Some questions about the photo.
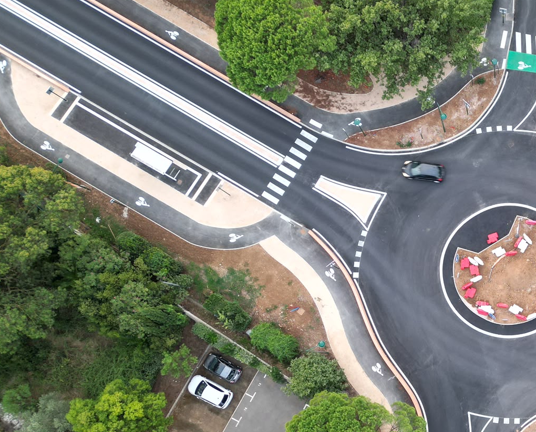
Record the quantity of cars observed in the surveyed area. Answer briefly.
3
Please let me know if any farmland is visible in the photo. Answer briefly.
No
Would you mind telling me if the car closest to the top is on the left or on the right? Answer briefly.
right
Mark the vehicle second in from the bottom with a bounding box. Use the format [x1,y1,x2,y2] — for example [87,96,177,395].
[203,353,243,383]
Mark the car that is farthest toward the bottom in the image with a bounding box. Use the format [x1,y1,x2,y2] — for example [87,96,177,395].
[188,376,233,408]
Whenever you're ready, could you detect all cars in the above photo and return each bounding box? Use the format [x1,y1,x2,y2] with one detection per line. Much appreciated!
[188,376,233,408]
[401,159,446,184]
[203,353,243,383]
